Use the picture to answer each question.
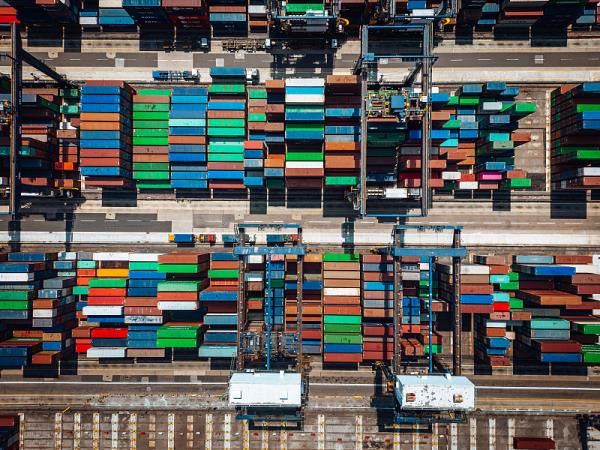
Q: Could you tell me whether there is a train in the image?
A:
No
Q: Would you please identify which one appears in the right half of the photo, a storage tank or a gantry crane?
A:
gantry crane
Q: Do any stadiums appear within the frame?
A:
No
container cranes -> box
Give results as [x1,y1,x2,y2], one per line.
[0,18,104,216]
[262,0,350,42]
[340,22,442,217]
[368,0,462,42]
[227,226,309,424]
[373,227,477,426]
